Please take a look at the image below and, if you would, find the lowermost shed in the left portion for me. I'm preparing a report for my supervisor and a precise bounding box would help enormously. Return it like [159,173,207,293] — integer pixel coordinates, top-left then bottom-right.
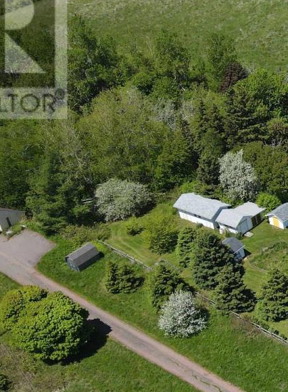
[64,242,108,272]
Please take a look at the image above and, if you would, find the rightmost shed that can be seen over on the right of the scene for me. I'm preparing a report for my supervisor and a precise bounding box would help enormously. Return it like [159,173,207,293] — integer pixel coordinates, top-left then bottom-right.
[264,204,288,229]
